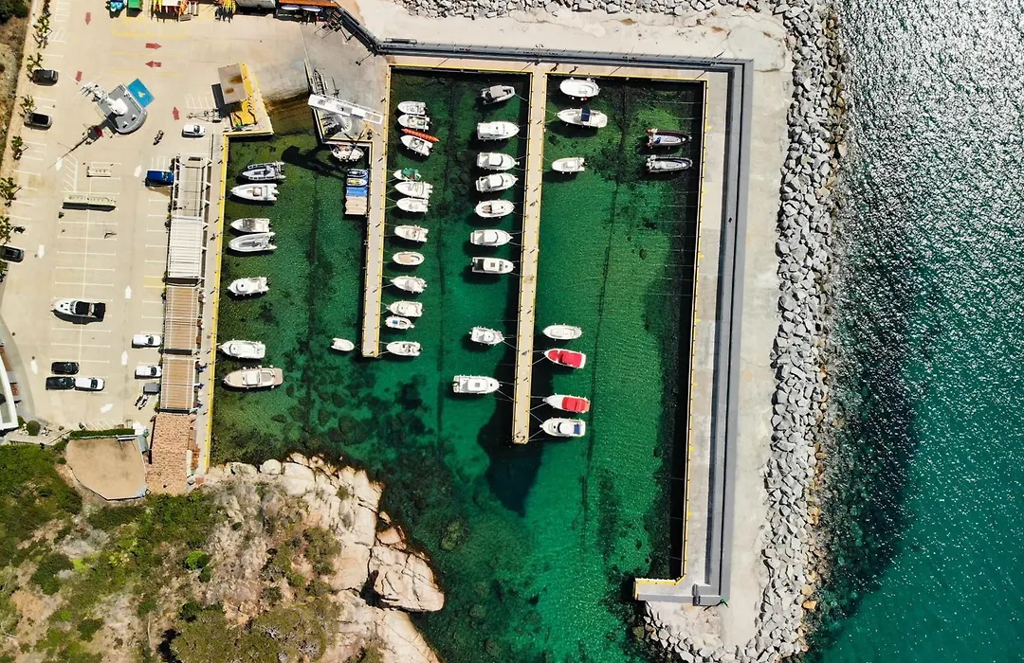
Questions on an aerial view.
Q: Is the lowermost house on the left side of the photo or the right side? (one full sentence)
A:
You can find the lowermost house on the left side of the picture.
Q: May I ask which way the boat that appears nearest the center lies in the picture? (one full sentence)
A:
What the image shows is the boat that appears nearest the center lying from side to side.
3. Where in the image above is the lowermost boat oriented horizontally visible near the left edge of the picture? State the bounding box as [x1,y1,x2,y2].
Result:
[51,298,107,320]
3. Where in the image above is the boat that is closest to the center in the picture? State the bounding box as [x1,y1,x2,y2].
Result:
[465,325,519,348]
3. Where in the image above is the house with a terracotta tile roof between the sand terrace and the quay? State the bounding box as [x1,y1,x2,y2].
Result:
[147,414,195,494]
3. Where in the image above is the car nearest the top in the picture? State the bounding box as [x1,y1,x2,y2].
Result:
[26,67,57,85]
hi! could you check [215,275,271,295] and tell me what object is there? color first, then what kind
white boat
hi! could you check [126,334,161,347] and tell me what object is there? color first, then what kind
white vehicle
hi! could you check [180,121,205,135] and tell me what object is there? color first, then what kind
white car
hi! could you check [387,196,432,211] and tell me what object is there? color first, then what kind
white boat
